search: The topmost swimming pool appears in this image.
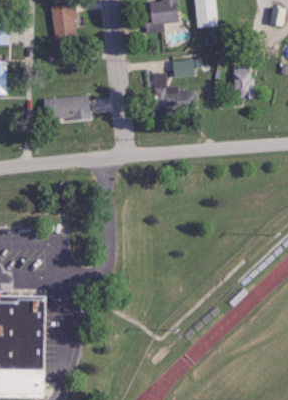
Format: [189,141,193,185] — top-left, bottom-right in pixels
[164,22,190,48]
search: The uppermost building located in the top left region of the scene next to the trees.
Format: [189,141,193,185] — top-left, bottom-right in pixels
[50,7,80,38]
